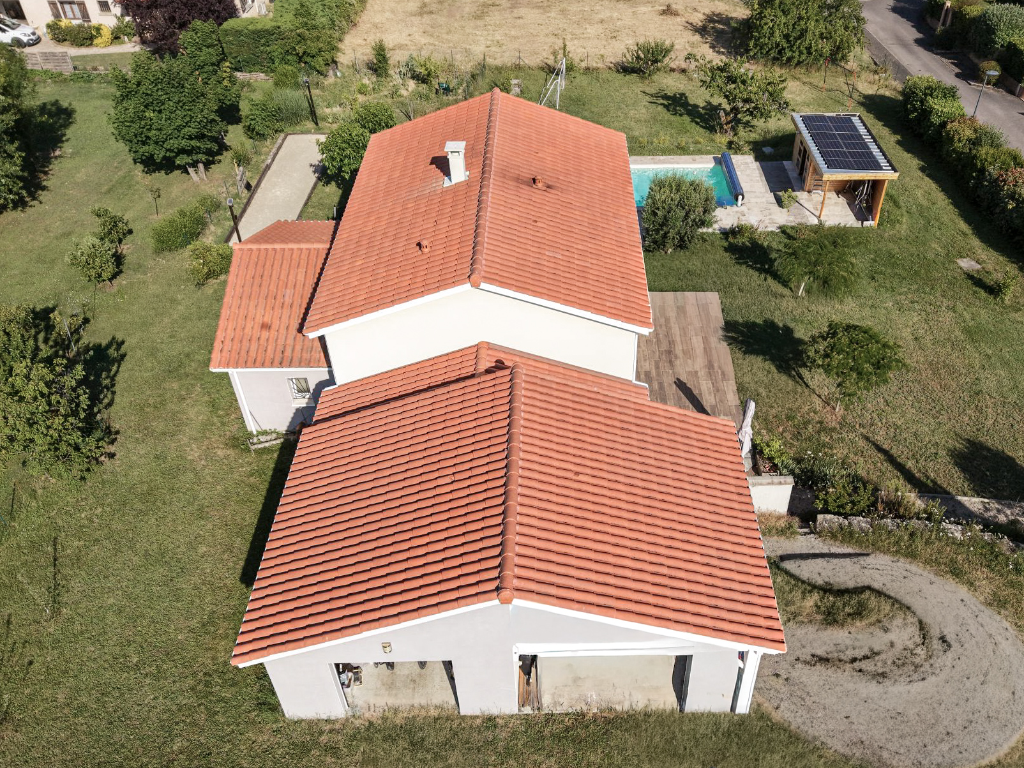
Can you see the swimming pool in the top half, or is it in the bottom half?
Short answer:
top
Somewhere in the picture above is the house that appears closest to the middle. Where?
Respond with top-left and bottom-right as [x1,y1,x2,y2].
[205,89,789,715]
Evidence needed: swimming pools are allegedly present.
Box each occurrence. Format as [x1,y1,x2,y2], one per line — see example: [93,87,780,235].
[630,162,742,208]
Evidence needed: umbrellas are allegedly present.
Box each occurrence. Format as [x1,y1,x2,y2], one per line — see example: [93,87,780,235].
[741,403,759,462]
